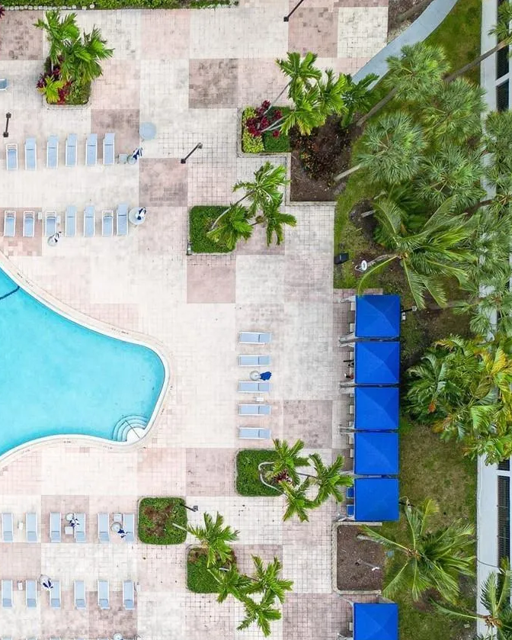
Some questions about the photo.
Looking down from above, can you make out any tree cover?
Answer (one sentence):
Yes, there's tree cover in this view.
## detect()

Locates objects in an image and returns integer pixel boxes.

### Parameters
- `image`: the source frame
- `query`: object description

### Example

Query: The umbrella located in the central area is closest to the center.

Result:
[250,366,273,385]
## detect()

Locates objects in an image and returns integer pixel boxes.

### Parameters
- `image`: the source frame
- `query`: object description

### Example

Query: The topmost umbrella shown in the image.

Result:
[123,144,139,164]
